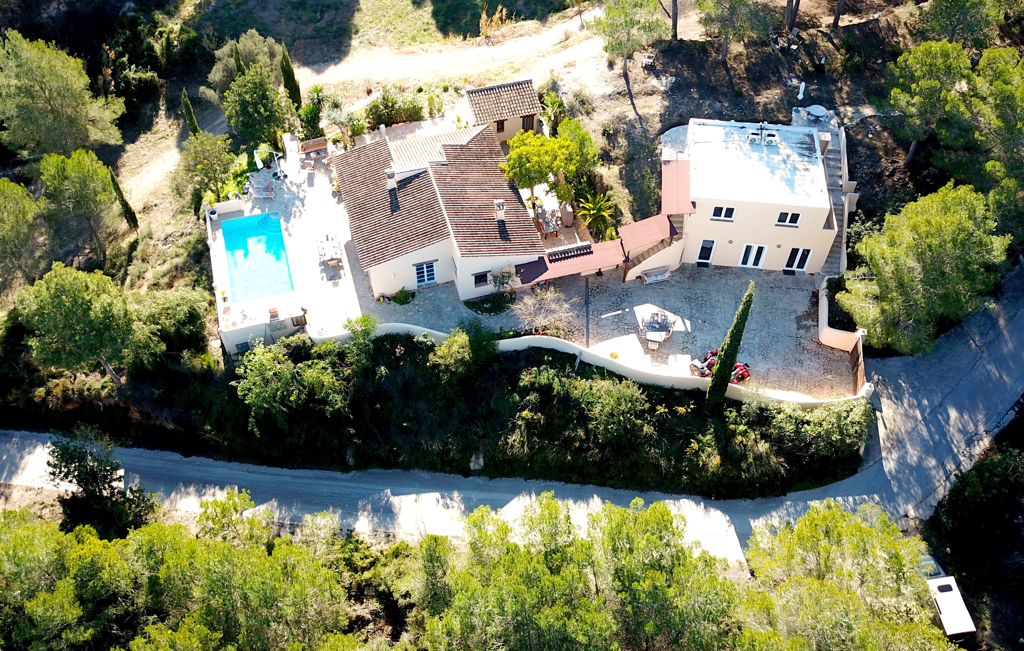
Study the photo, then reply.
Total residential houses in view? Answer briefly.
2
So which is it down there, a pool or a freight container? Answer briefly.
pool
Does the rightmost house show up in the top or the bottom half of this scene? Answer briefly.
top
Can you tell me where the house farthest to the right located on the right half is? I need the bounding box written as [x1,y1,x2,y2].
[682,118,837,275]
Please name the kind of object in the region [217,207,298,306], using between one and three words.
swimming pool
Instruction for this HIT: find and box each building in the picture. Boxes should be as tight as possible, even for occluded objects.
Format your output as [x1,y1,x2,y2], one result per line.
[682,118,837,275]
[333,123,547,301]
